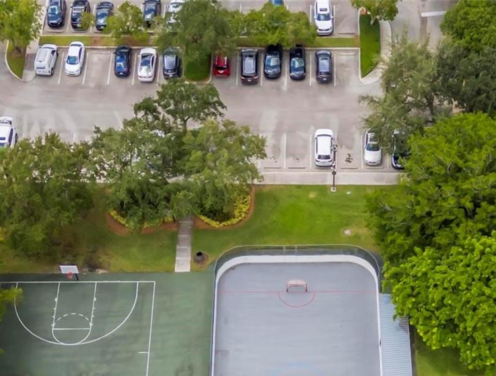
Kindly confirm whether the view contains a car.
Yes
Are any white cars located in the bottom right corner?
No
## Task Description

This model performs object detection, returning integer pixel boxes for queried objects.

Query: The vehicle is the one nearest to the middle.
[313,131,334,168]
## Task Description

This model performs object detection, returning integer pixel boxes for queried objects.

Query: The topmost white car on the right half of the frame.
[314,1,333,35]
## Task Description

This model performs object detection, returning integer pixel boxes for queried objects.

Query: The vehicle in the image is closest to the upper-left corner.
[44,0,67,28]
